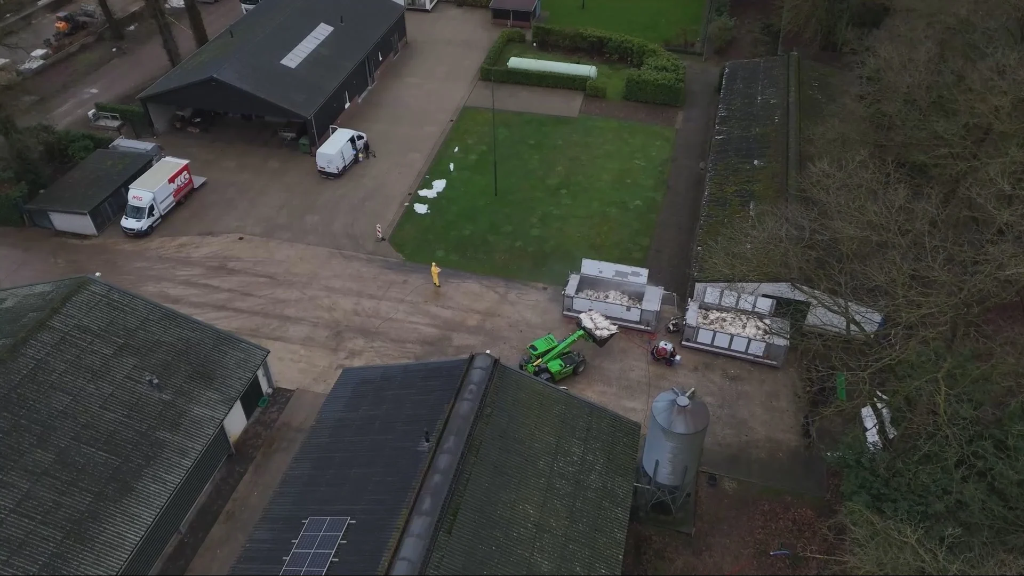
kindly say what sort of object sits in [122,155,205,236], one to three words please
truck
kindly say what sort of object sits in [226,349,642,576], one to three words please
barn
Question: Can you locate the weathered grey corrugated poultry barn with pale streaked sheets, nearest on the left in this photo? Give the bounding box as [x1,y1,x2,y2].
[0,273,273,576]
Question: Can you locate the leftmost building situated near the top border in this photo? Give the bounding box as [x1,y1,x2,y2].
[135,0,410,155]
